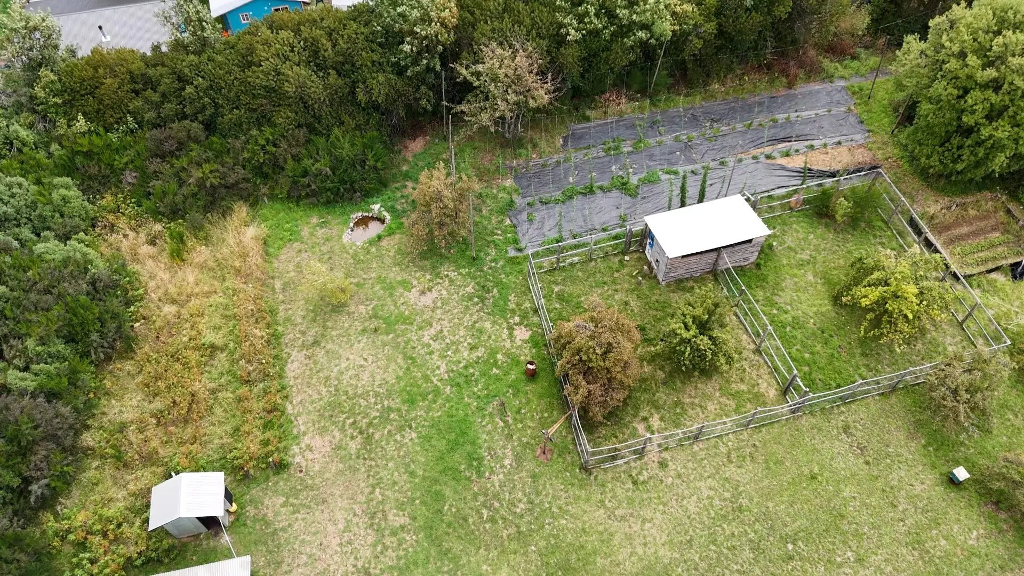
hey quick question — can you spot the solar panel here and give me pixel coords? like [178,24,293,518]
[224,484,239,518]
